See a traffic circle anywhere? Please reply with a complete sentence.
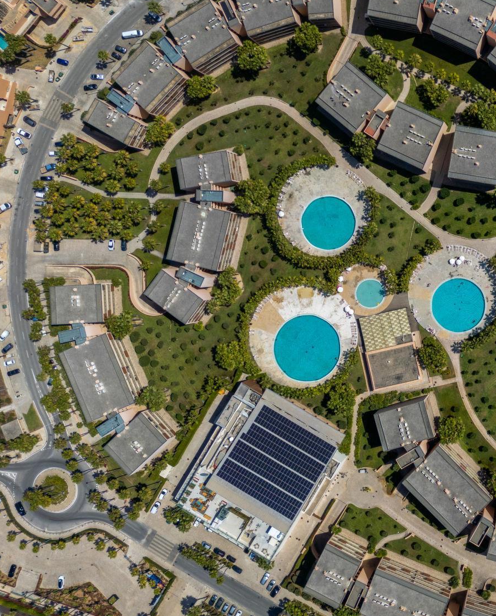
Yes, there's a traffic circle down there.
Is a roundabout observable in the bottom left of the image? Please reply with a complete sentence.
Yes, in the bottom left of the image there is a roundabout.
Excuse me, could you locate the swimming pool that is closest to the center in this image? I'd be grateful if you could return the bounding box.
[249,286,357,387]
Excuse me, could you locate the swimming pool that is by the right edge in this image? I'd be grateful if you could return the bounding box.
[408,246,496,341]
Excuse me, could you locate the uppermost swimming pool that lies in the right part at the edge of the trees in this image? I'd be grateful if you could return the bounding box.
[275,164,372,256]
